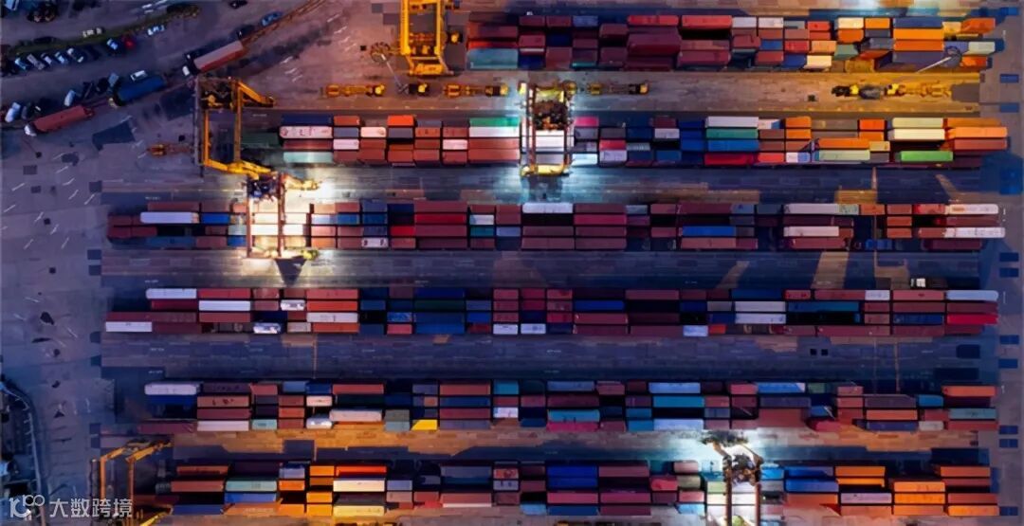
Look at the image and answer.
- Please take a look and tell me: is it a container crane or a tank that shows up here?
container crane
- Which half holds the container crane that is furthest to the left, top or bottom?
bottom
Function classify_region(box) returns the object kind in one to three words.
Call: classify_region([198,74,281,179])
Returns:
container crane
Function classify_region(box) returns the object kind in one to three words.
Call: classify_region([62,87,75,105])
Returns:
vehicle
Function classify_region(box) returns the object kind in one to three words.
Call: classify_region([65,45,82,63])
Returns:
car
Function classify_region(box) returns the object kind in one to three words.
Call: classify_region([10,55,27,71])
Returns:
car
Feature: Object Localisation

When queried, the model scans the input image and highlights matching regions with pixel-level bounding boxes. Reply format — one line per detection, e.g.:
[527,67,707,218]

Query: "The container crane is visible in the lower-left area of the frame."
[94,435,181,526]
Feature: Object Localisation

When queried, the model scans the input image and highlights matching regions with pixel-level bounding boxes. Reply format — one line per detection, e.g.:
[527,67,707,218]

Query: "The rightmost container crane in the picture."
[695,437,764,526]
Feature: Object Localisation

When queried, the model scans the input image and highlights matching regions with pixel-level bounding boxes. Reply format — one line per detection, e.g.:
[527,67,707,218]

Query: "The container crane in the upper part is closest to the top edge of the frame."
[404,0,461,79]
